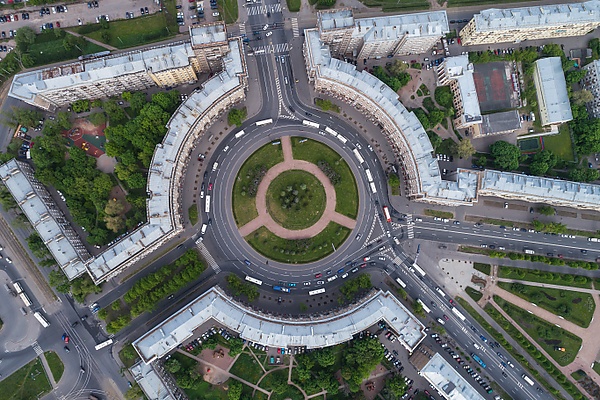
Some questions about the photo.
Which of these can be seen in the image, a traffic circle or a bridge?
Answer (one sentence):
Visible in the photo is a traffic circle.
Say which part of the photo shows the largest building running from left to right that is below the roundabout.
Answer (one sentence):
Look in the bottom portion of the view to spot the largest building running from left to right that is below the roundabout.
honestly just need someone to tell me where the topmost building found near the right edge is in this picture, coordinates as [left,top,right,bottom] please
[461,0,600,45]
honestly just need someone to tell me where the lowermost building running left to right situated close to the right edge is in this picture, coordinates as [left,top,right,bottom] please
[478,169,600,211]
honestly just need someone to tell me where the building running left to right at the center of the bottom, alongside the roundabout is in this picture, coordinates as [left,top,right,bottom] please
[129,288,428,364]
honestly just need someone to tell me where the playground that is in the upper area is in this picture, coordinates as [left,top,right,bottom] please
[63,118,106,158]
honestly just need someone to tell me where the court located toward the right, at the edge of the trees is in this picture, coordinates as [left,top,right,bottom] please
[473,61,519,110]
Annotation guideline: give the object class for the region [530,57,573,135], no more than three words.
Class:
building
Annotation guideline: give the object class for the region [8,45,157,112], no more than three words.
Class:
building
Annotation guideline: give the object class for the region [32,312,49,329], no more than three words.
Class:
vehicle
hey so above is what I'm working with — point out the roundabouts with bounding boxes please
[224,131,365,271]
